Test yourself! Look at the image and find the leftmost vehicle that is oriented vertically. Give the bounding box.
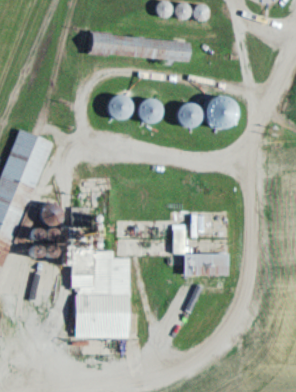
[30,260,42,299]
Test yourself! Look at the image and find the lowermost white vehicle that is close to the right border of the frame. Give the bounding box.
[240,10,284,28]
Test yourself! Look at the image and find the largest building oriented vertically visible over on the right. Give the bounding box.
[172,224,186,254]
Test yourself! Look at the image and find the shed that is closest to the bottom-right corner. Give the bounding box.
[184,253,230,276]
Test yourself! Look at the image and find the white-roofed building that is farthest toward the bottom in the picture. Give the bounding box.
[74,294,130,338]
